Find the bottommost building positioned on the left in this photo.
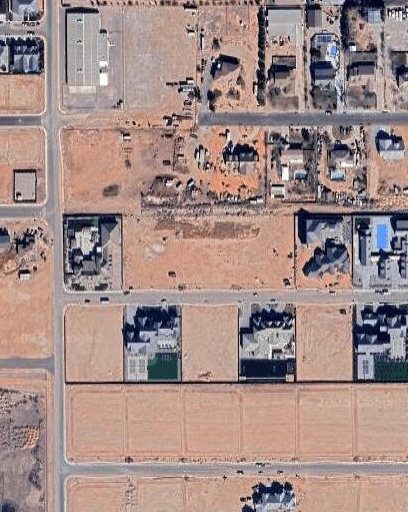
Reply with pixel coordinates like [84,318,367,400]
[130,312,181,354]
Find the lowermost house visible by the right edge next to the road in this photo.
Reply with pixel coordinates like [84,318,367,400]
[355,311,408,352]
